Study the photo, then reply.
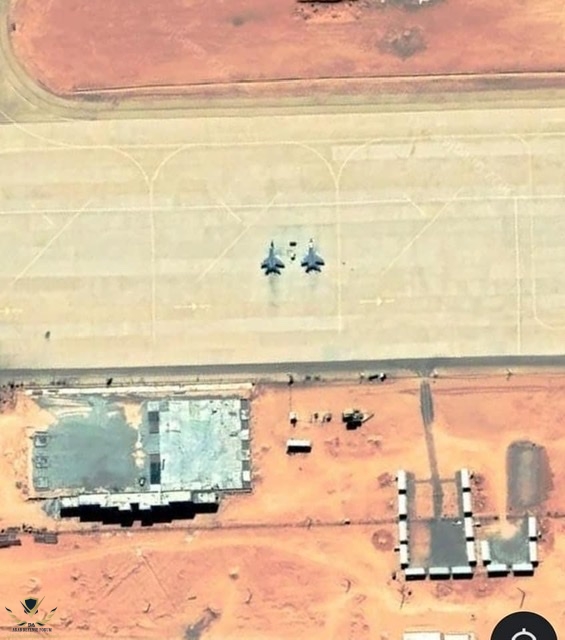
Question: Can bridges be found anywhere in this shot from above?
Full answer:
No, no bridge is visible in the view.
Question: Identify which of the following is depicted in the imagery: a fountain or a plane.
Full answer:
Looking from above, you can make out a plane.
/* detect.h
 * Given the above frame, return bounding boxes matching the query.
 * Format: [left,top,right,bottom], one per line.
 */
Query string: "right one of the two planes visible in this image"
[301,239,324,273]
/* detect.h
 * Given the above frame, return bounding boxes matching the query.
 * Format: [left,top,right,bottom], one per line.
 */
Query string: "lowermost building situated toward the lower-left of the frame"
[59,492,218,511]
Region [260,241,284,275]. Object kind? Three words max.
airplane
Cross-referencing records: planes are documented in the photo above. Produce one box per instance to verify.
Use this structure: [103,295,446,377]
[260,241,284,275]
[301,239,324,273]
